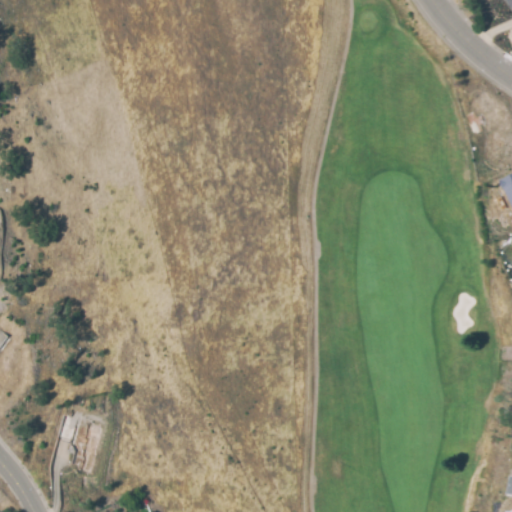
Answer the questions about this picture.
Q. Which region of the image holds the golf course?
right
